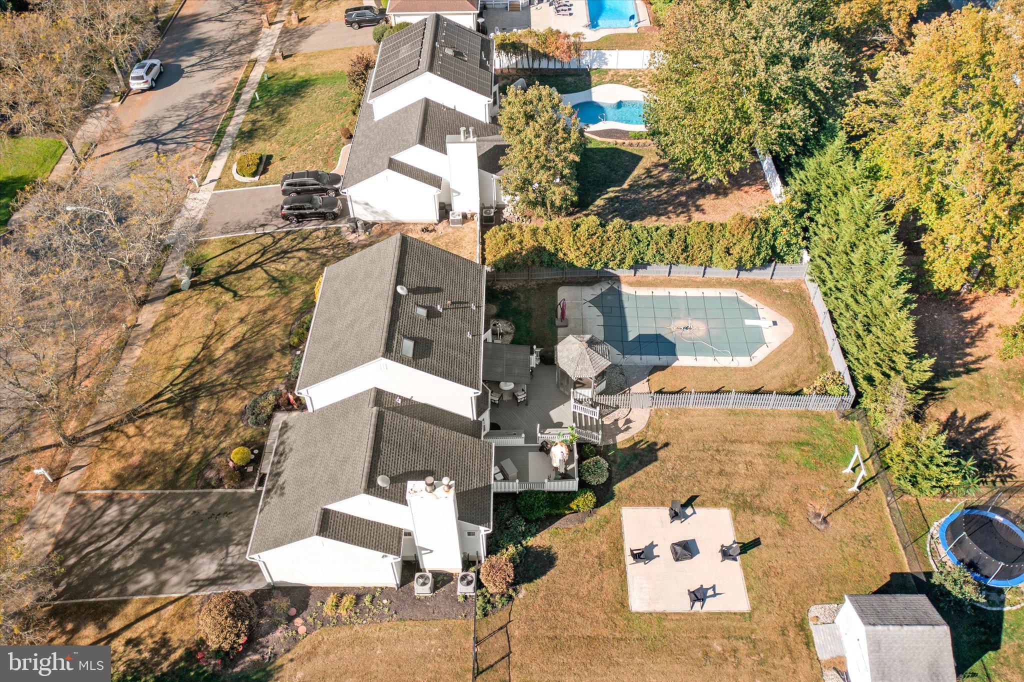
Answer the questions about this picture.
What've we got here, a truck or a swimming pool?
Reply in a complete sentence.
Looking from above, you can make out a swimming pool.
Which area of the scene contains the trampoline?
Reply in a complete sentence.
Look in the bottom right portion of the view to spot the trampoline.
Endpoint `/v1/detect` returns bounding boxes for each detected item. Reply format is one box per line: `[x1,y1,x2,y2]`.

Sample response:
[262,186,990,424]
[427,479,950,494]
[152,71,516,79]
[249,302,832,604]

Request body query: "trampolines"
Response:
[937,497,1024,592]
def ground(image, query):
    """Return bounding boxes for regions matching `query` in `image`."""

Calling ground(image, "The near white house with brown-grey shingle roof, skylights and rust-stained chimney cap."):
[245,234,496,591]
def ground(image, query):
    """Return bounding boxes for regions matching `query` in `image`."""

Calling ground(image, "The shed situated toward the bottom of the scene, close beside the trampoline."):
[836,595,957,682]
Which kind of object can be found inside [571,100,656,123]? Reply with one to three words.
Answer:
swimming pool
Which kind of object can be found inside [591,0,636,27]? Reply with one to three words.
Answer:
swimming pool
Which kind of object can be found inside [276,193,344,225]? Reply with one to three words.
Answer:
car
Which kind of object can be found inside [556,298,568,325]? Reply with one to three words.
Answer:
umbrella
